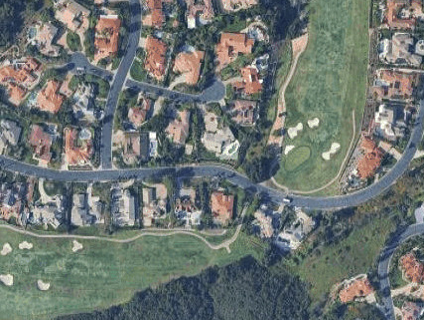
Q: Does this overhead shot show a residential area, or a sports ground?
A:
residential area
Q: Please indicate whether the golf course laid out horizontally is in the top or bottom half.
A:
bottom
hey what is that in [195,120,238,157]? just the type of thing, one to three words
house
